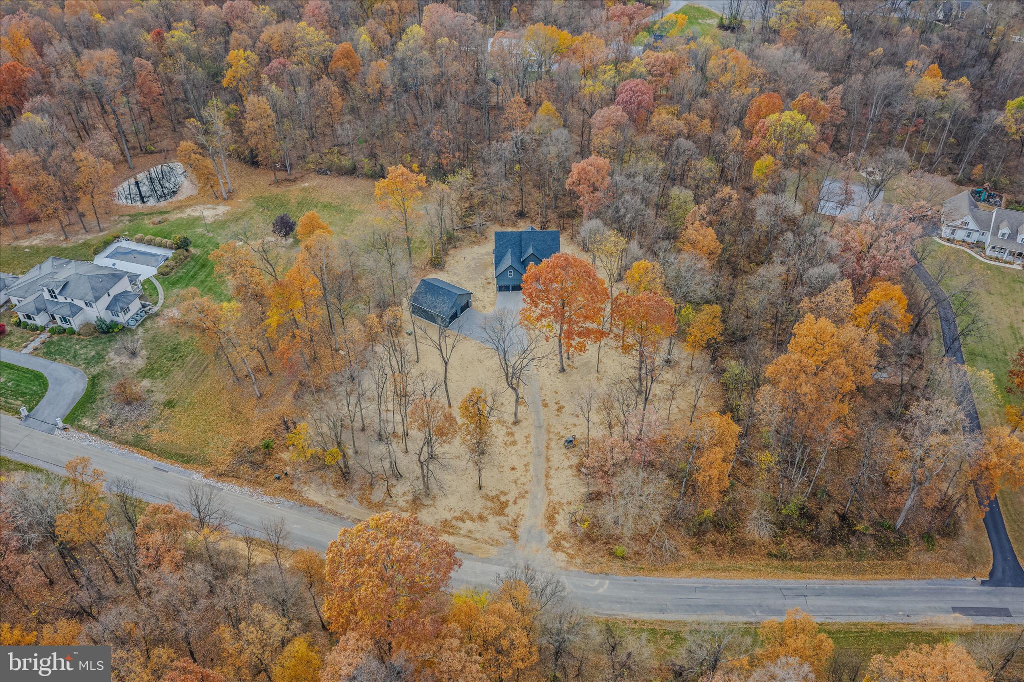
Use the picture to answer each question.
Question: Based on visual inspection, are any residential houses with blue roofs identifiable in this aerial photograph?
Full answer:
Yes, a residential house with a blue roof can be made out from above.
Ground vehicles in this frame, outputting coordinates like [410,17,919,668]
[563,435,581,450]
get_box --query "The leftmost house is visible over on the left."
[0,257,150,329]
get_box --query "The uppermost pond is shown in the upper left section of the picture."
[116,162,185,205]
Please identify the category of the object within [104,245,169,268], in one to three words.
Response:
swimming pool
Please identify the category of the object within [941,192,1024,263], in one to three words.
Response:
house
